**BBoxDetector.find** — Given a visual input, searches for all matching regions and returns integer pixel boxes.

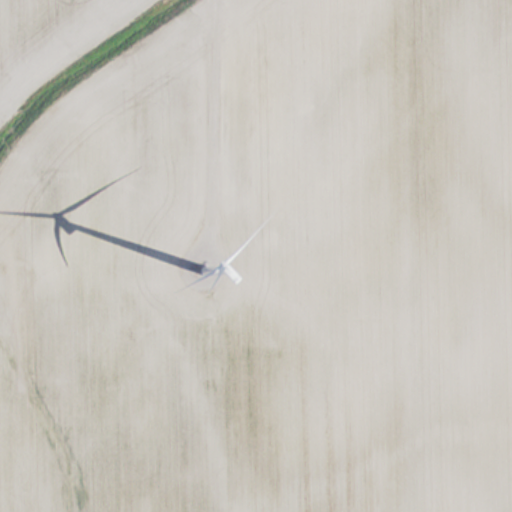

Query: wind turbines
[174,214,273,298]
